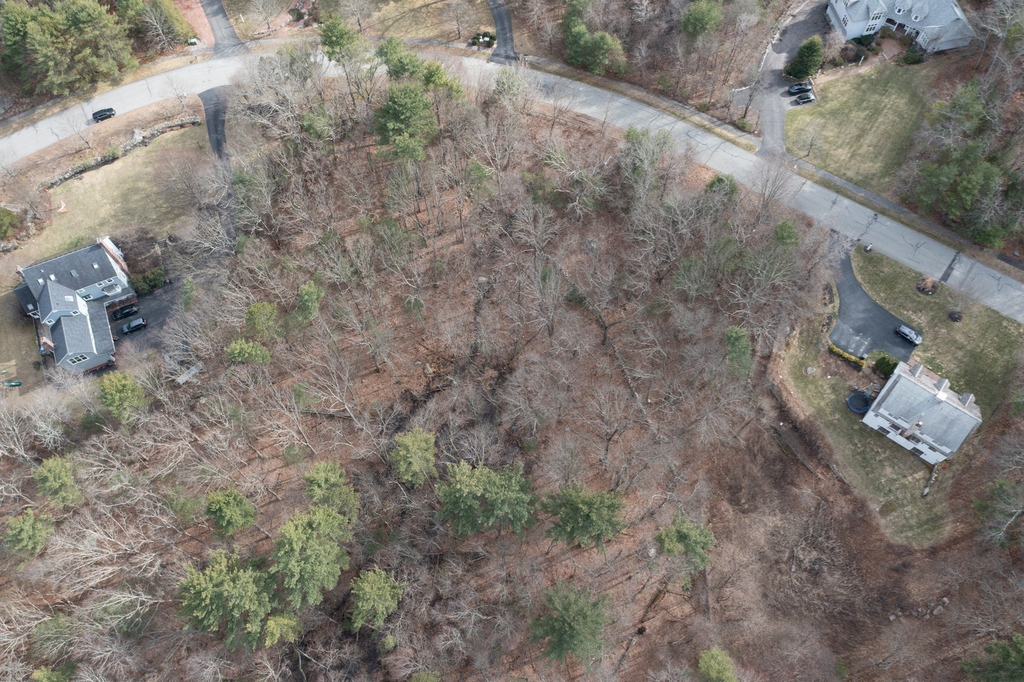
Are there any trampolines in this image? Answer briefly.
Yes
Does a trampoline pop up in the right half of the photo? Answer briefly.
Yes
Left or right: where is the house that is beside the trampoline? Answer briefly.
right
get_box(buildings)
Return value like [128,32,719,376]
[12,232,138,376]
[862,364,982,469]
[827,0,984,52]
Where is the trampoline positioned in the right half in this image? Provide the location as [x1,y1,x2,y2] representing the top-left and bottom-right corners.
[845,386,875,413]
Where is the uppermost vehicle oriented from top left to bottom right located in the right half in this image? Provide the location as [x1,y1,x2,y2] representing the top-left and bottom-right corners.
[894,324,922,346]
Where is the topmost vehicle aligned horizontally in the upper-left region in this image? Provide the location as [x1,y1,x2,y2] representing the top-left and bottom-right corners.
[92,109,117,122]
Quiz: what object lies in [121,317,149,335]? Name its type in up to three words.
car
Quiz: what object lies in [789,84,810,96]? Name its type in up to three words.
vehicle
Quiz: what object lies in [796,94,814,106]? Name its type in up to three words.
vehicle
